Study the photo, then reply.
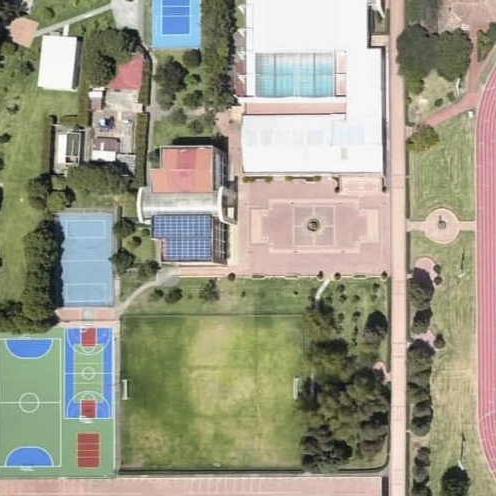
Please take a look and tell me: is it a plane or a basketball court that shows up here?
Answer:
basketball court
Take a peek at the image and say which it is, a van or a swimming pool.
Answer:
swimming pool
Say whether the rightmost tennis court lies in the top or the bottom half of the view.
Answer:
top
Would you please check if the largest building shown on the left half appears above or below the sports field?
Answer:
above it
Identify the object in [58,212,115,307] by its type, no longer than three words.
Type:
sports court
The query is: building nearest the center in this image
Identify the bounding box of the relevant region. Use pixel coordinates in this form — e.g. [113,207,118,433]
[133,146,240,265]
